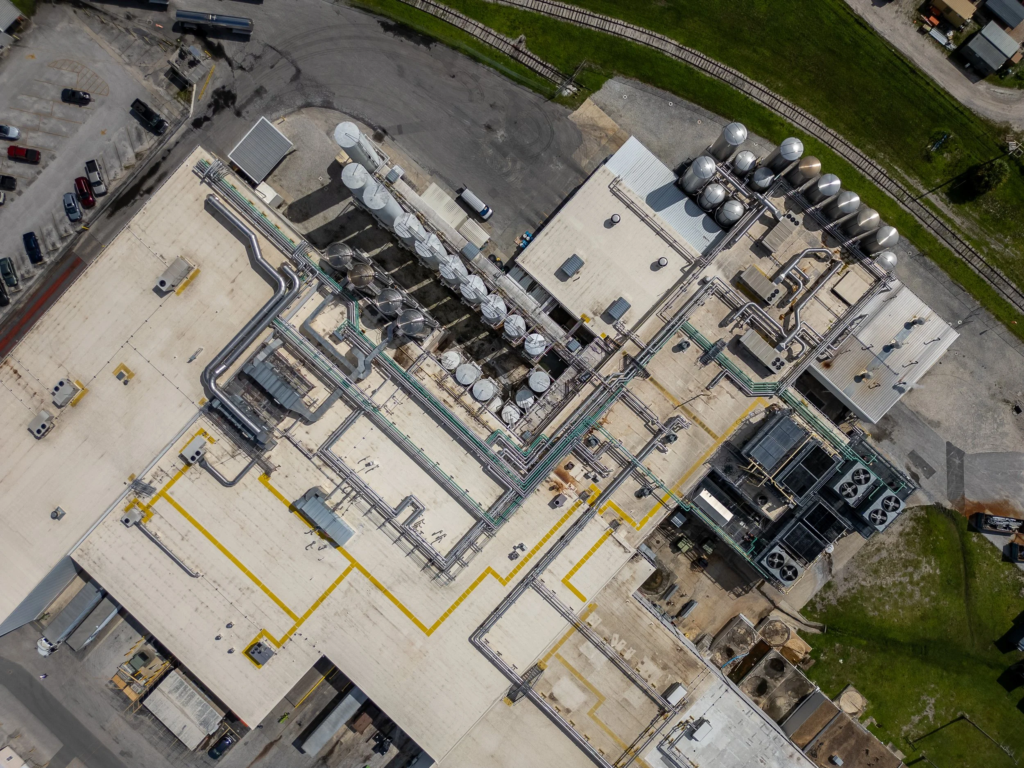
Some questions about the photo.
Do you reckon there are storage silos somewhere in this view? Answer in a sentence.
Yes, there's a storage silo down there.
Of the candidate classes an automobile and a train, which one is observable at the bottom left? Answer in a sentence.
It is an automobile that can be seen at the bottom left.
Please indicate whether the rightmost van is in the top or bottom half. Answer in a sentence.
Seen from above, the rightmost van lies in the top half of the view.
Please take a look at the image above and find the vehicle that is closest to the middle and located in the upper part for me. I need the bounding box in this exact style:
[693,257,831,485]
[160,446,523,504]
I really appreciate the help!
[454,184,493,224]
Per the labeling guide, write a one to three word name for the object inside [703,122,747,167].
silo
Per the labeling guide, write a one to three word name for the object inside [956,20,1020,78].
building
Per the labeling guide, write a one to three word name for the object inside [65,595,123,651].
trailer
